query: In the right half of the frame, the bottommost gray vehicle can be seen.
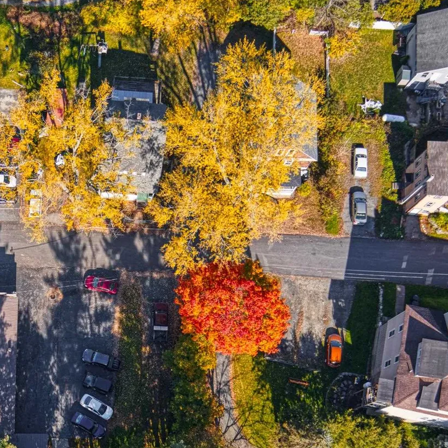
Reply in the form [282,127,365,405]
[349,191,367,222]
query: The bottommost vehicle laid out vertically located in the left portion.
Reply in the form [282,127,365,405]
[151,303,169,342]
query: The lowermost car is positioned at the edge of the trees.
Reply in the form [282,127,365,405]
[71,411,106,438]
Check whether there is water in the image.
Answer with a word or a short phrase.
No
